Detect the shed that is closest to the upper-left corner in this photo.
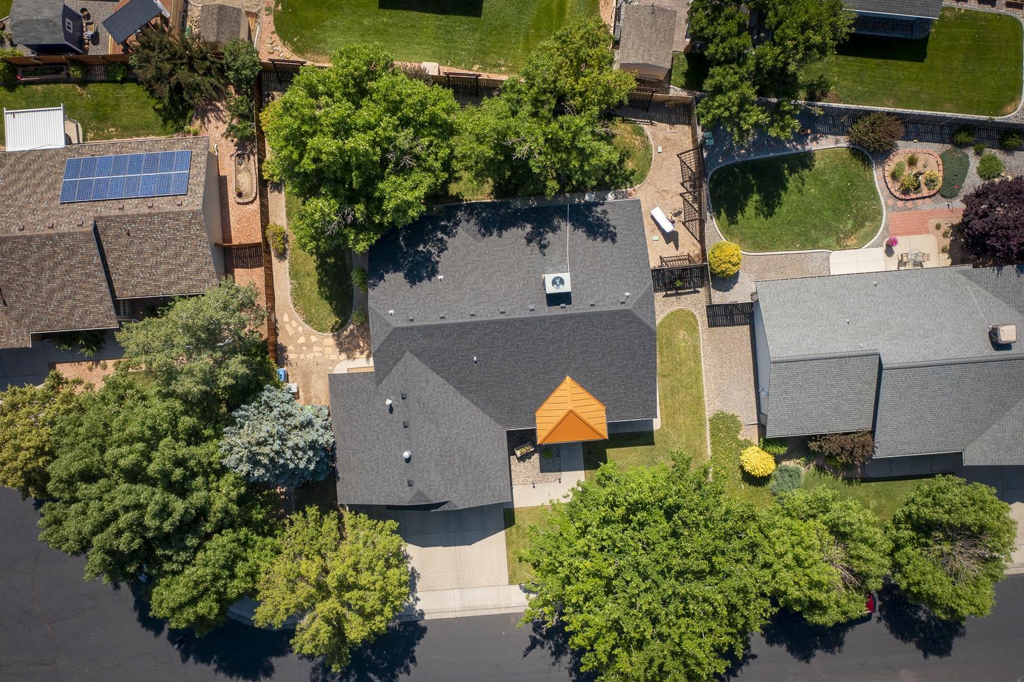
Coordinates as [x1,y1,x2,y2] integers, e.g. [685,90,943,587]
[8,0,84,54]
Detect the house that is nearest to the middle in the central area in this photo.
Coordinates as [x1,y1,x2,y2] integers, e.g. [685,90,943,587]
[328,198,657,510]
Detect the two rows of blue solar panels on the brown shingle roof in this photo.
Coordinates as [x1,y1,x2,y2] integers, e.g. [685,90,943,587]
[60,149,191,201]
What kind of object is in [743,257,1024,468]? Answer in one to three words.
house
